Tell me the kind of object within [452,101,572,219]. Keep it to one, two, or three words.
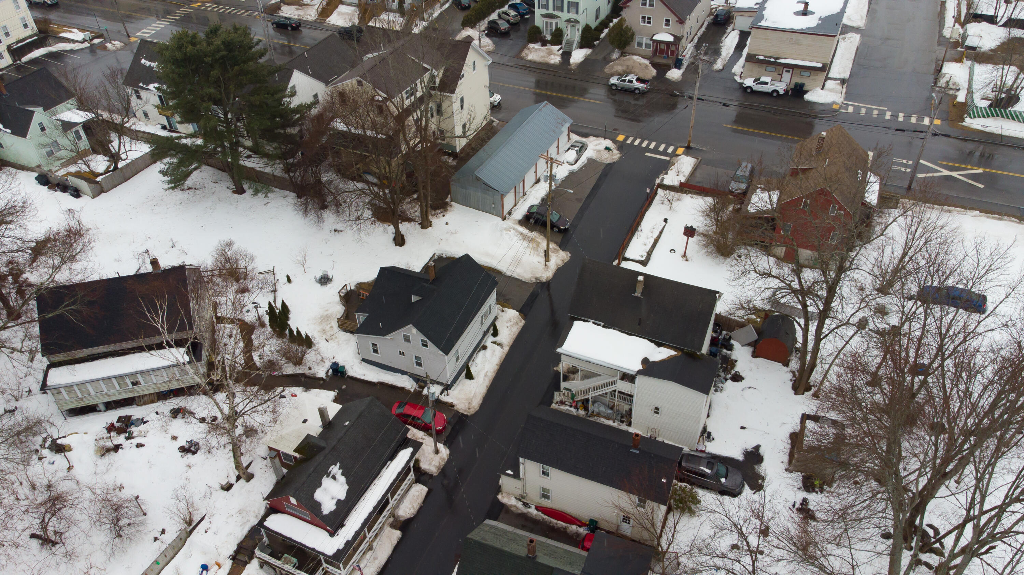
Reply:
building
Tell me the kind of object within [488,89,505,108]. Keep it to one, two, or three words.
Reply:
car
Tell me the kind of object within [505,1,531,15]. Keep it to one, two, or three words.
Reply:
car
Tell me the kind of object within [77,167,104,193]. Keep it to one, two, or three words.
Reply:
shed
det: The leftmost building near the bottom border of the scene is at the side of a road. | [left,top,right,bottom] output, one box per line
[254,393,424,575]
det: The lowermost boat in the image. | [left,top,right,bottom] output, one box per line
[535,508,587,528]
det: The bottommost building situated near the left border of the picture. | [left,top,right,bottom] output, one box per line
[36,257,210,411]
